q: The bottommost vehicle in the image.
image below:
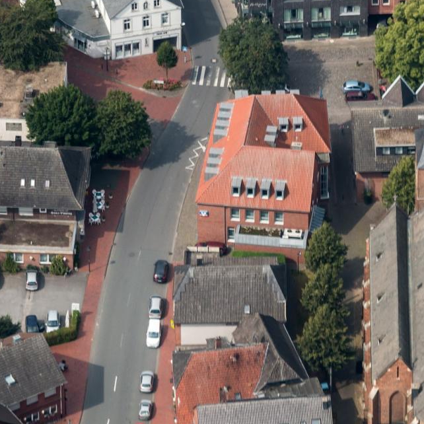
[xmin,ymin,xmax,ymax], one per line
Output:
[138,399,153,421]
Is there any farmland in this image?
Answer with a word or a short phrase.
No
